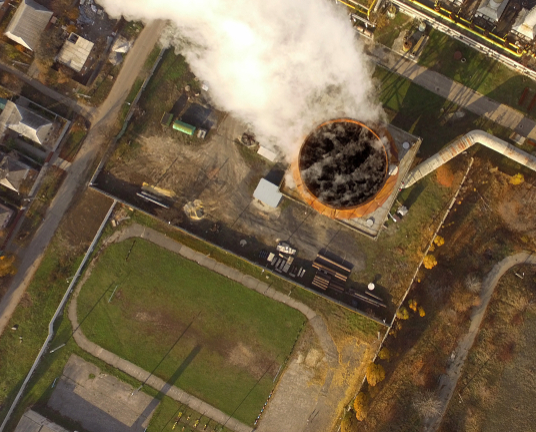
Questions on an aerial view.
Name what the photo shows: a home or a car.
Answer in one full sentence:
Looking from above, you can make out a home.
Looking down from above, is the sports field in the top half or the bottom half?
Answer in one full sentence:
The sports field is in the bottom half of the image.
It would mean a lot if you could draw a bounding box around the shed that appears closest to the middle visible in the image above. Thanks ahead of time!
[256,181,280,205]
